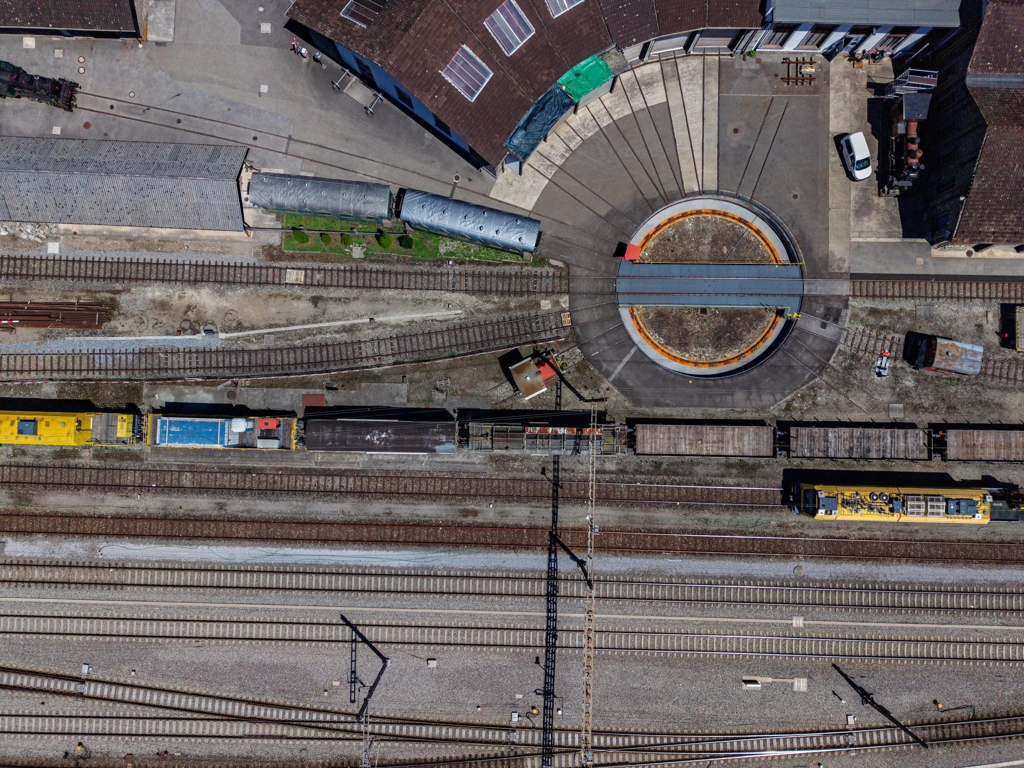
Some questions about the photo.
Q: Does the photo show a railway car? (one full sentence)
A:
Yes, a railway car appears in the view.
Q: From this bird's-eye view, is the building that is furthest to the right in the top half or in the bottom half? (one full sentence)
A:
It is in the top half that the building that is furthest to the right appears.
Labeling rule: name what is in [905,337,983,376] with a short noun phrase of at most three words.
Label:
rail car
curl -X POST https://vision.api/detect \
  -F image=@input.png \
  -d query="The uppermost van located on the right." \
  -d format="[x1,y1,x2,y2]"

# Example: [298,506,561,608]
[839,130,873,185]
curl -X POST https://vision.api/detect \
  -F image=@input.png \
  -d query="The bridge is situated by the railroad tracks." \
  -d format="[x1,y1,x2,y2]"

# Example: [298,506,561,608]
[617,235,803,321]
